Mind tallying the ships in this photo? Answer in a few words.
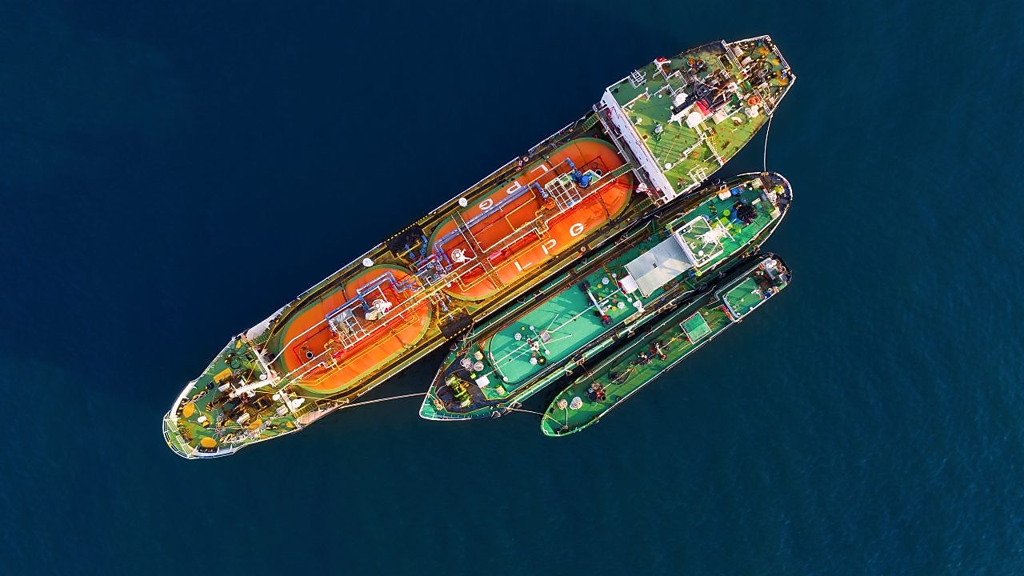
three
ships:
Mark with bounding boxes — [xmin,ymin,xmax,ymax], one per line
[159,32,799,461]
[541,251,794,437]
[419,171,795,423]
